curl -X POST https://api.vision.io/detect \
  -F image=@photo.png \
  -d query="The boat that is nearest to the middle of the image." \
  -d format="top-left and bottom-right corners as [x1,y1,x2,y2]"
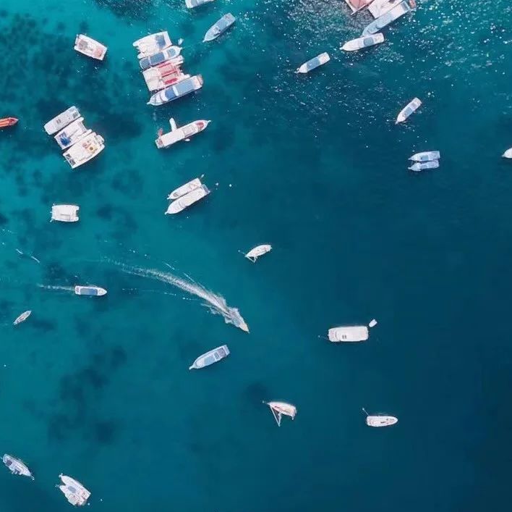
[246,244,273,261]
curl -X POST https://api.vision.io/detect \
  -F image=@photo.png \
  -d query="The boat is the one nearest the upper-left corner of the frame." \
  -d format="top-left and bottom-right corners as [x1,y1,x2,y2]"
[73,35,107,60]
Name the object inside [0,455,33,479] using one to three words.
boat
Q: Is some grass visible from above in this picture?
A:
No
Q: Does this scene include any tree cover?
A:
No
